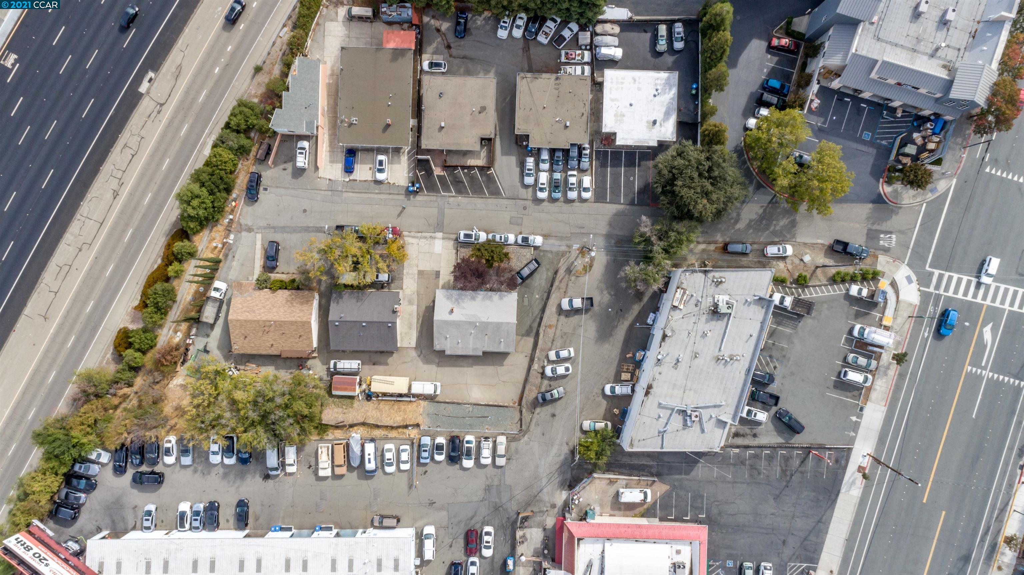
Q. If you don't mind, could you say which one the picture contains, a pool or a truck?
truck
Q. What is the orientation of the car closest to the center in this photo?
on a diagonal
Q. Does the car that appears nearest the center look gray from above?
Yes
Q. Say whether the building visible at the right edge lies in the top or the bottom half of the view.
top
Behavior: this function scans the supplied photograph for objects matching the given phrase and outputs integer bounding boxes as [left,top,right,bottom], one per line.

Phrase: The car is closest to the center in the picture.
[515,256,543,286]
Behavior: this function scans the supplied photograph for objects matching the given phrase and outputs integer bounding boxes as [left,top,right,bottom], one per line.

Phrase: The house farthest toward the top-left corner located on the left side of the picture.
[269,57,325,136]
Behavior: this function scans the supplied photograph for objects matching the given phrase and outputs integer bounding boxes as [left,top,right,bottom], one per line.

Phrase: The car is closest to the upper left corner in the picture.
[118,4,141,29]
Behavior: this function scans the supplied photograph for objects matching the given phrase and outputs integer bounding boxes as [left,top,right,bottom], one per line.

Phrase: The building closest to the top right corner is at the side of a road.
[807,0,1020,124]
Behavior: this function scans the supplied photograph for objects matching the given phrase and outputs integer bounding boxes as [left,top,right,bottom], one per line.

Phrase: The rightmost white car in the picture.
[979,255,1001,285]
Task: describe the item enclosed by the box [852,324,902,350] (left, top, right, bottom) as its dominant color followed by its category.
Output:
white vehicle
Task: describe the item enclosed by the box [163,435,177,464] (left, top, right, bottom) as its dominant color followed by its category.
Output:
white car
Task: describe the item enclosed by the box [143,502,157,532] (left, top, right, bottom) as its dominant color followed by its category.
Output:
white car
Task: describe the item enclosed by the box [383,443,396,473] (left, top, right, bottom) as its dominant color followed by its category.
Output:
white vehicle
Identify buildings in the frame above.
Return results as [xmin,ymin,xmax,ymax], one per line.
[269,57,325,136]
[433,289,518,356]
[546,516,710,575]
[601,69,678,149]
[328,290,403,351]
[620,269,776,452]
[227,282,318,358]
[72,525,421,575]
[515,73,590,151]
[807,0,1020,124]
[420,75,496,153]
[337,46,415,150]
[332,375,361,395]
